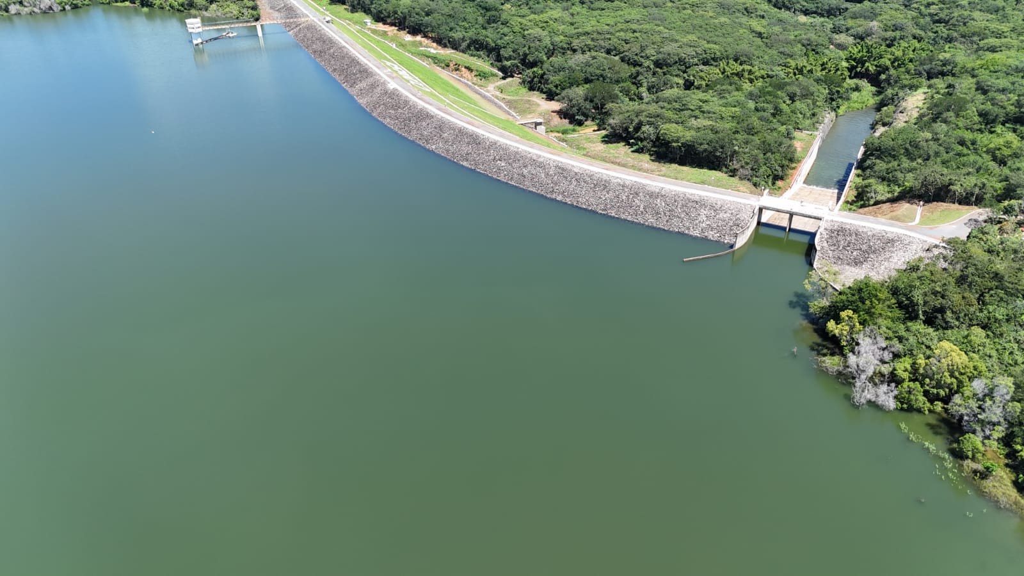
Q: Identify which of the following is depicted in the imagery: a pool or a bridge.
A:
bridge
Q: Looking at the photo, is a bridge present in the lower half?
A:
No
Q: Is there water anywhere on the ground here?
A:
Yes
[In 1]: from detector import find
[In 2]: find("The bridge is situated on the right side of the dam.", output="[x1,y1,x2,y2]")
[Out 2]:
[757,192,833,235]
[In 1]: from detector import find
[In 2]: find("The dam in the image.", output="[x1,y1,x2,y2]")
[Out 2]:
[257,0,760,245]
